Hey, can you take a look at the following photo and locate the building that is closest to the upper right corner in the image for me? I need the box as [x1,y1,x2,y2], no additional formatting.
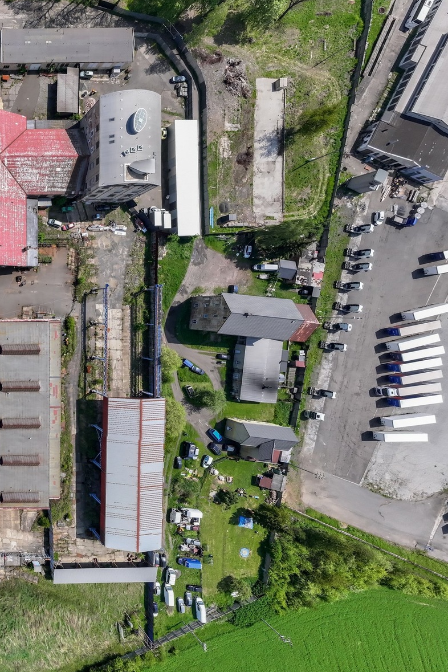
[377,0,448,134]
